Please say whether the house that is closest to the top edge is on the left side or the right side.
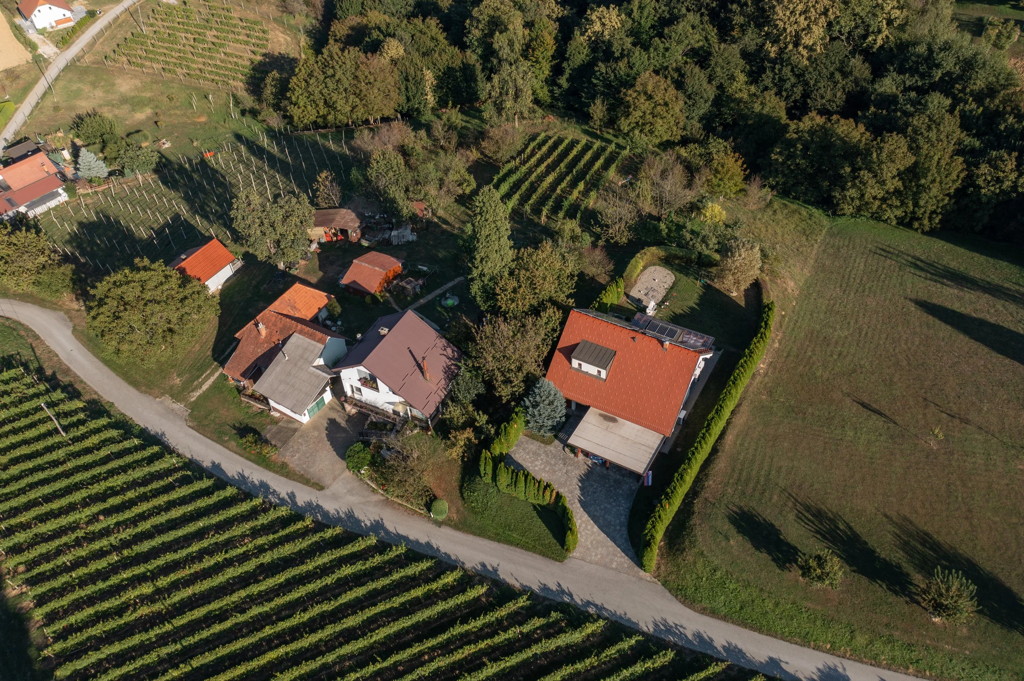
left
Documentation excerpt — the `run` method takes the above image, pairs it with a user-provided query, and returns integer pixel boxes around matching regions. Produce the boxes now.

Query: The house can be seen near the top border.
[25,0,75,28]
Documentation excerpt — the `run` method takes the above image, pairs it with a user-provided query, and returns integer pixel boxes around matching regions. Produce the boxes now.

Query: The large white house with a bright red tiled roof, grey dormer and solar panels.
[545,309,714,447]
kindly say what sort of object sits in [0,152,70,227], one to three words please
house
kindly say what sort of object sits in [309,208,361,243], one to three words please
shed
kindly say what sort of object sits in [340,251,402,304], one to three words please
shed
